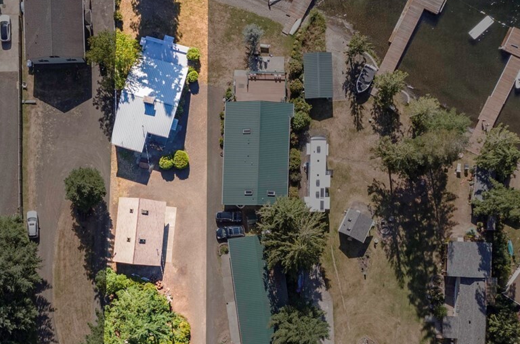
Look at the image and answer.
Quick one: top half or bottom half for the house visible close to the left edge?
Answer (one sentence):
The top half of the photo is where the house visible close to the left edge is.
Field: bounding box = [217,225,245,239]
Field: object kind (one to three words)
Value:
vehicle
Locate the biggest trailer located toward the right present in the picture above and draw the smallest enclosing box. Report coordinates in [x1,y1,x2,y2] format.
[302,135,331,211]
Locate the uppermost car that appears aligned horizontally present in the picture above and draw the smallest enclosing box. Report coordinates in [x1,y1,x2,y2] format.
[215,212,243,224]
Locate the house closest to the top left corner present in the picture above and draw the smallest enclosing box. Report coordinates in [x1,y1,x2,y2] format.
[23,0,92,64]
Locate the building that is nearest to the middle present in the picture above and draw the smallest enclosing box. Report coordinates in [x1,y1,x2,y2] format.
[222,101,295,209]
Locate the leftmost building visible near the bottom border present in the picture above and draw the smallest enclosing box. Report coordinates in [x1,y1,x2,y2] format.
[225,236,275,344]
